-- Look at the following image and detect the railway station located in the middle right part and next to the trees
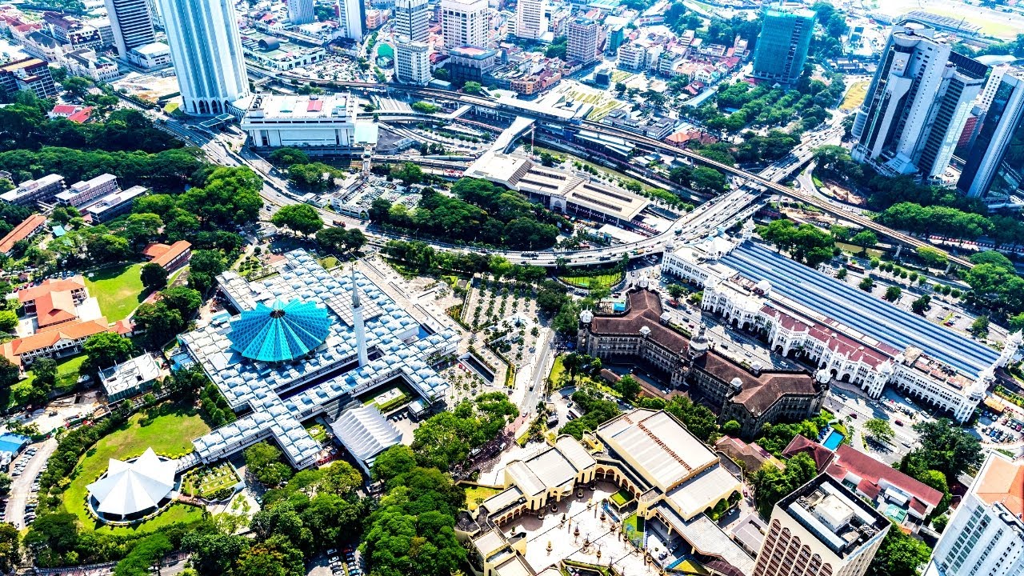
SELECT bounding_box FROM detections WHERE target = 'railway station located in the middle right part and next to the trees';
[660,212,1024,423]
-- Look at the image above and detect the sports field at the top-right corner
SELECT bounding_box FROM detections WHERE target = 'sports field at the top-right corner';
[887,6,1024,34]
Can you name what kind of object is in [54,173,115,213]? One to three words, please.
building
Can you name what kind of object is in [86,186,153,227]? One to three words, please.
building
